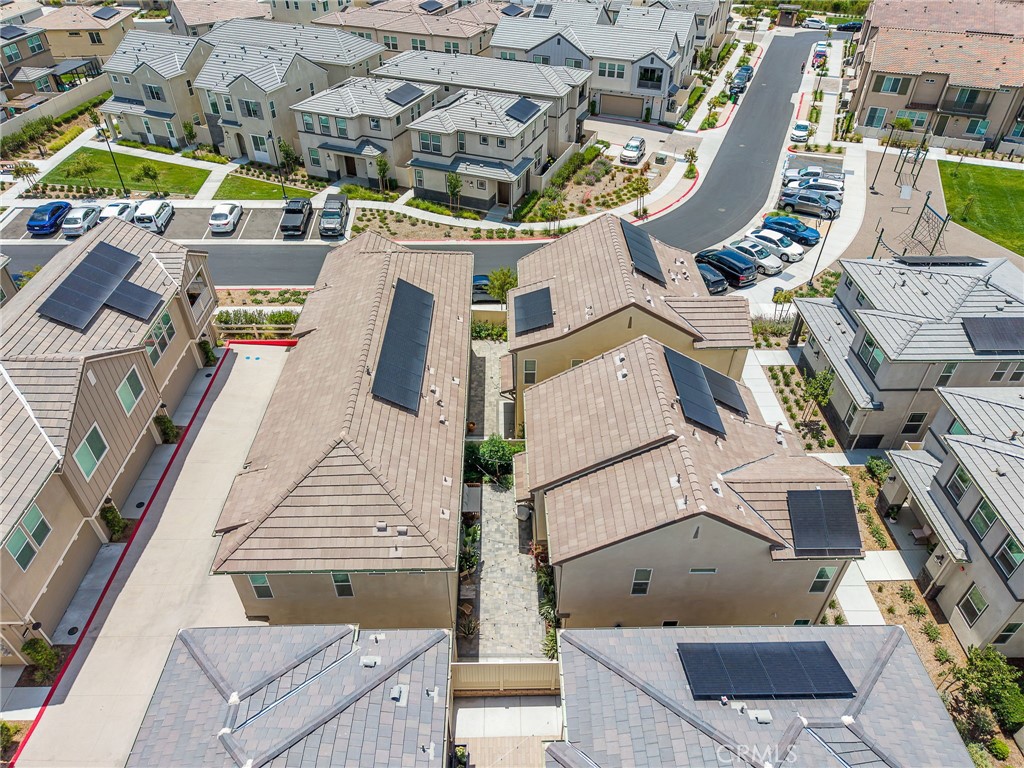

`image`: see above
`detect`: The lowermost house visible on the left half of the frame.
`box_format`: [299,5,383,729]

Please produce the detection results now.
[117,621,452,768]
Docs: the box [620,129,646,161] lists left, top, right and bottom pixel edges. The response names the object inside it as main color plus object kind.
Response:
white car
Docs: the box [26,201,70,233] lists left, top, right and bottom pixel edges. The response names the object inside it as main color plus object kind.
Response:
blue car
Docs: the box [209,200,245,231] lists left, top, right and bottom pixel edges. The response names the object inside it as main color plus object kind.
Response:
white car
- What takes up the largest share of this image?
buildings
